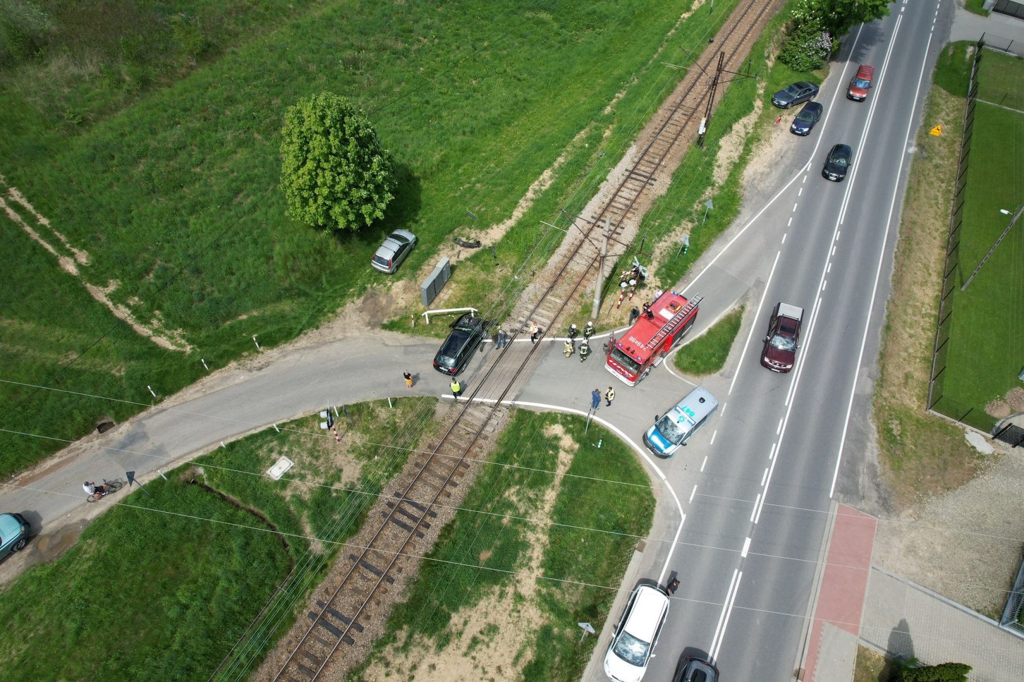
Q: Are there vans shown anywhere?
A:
Yes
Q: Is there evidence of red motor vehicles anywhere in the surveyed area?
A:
Yes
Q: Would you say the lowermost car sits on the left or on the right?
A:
right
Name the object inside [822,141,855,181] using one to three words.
car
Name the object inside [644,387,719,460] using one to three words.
van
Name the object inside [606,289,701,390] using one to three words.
truck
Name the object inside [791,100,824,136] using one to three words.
car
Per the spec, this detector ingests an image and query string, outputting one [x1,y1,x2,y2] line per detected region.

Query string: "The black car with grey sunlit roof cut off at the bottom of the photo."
[675,650,724,682]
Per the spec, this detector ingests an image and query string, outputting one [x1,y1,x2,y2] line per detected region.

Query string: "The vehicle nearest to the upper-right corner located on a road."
[846,64,875,100]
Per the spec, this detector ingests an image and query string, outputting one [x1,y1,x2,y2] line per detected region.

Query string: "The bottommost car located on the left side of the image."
[0,516,32,563]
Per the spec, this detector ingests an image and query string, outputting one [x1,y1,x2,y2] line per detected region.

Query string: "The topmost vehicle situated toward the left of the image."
[373,228,418,271]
